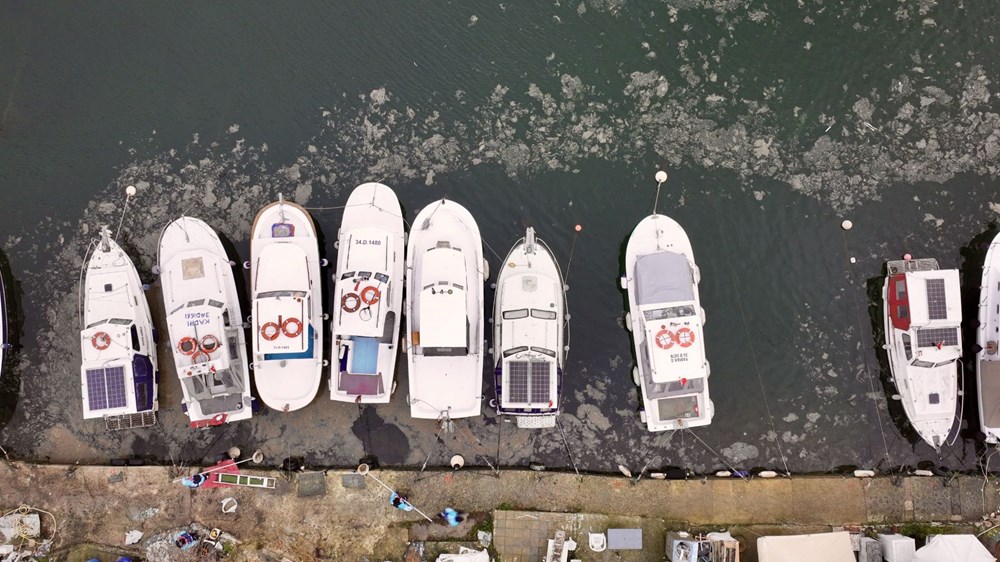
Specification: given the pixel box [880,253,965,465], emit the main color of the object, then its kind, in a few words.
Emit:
white boat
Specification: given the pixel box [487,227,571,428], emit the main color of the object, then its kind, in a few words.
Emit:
white boat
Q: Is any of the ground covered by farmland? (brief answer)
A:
No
